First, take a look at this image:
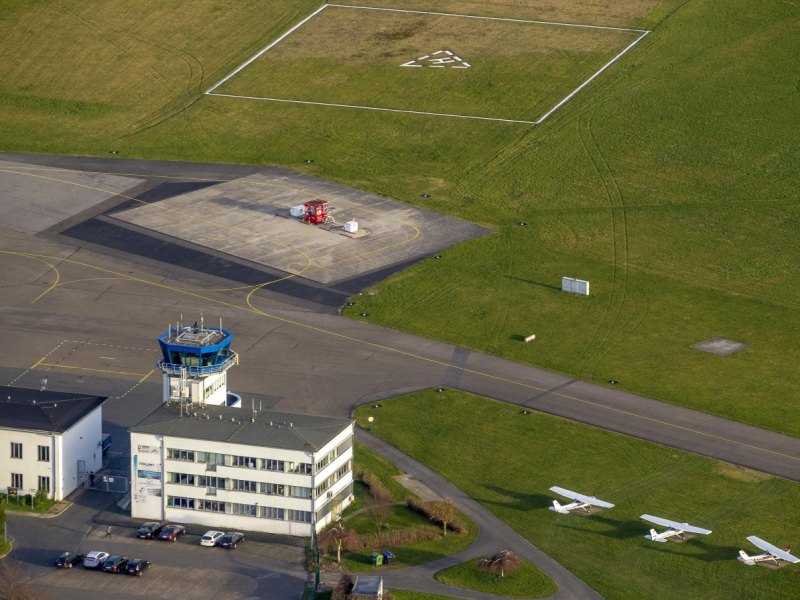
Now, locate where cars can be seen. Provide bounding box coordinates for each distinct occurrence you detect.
[201,528,229,546]
[138,520,166,539]
[222,530,250,548]
[57,551,86,568]
[104,553,132,572]
[127,558,155,574]
[161,524,189,541]
[84,550,112,569]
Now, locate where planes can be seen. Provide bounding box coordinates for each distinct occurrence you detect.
[637,509,714,542]
[541,482,617,516]
[729,533,800,569]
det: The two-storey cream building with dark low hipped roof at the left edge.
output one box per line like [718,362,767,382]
[0,388,112,500]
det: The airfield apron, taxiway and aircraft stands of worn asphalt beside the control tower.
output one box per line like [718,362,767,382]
[0,153,800,534]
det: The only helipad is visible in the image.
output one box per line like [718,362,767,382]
[204,5,652,123]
